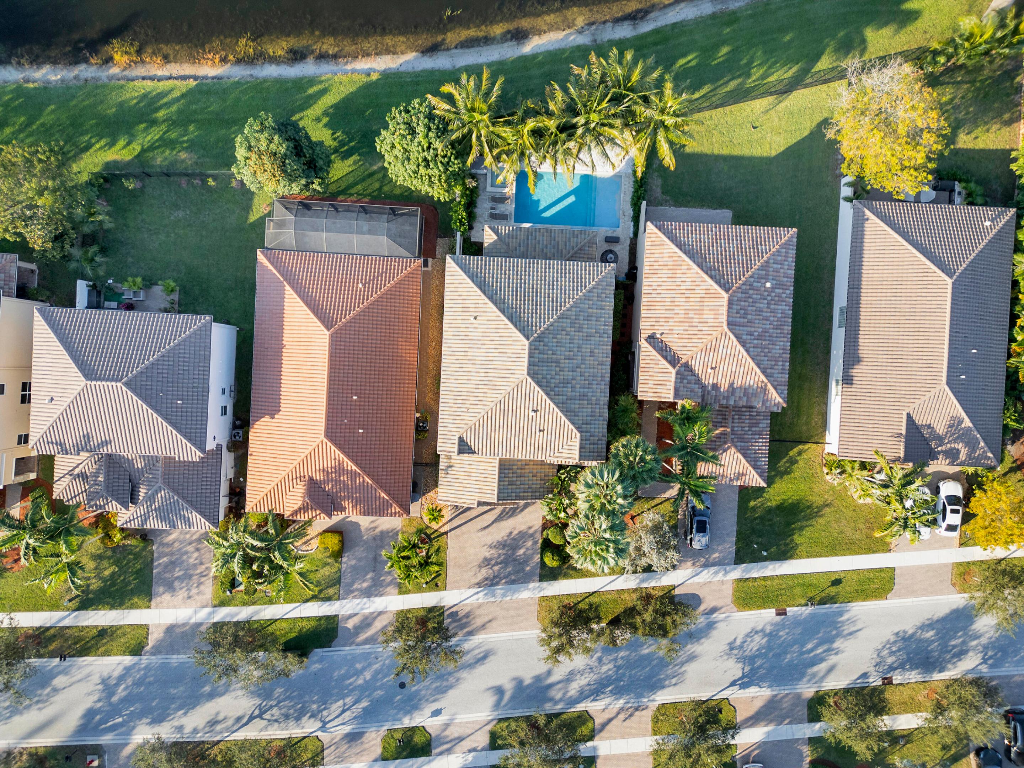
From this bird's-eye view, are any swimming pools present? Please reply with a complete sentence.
Yes, there is a swimming pool in the image.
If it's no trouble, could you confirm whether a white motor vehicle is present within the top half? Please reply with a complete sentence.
No, within the top half there is no white motor vehicle.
